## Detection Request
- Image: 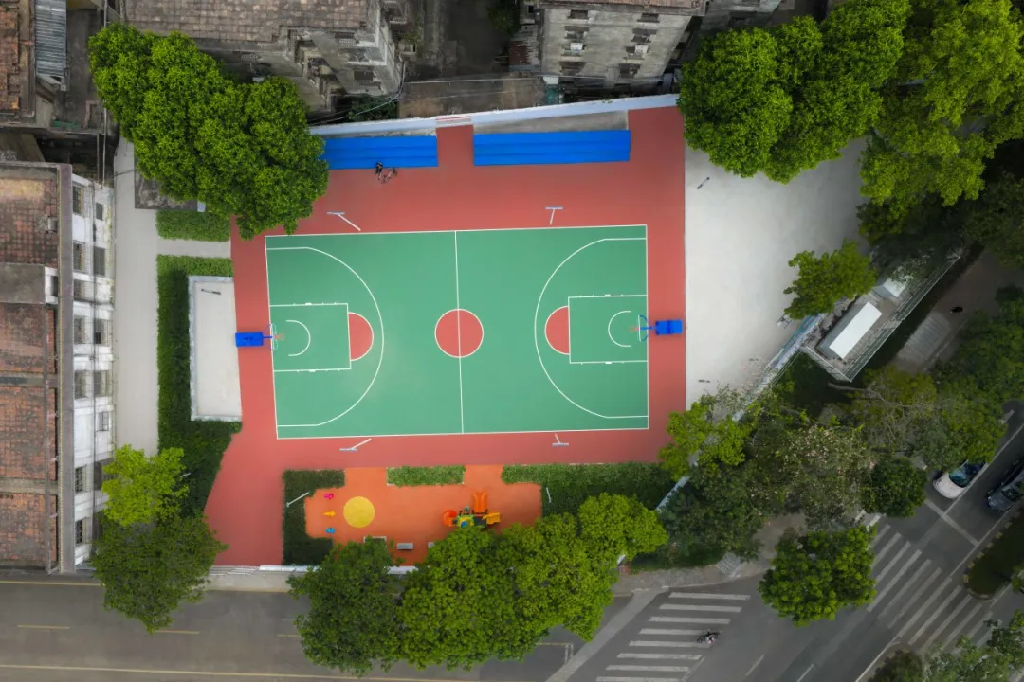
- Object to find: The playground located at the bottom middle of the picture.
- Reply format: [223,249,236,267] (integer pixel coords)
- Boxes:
[305,465,543,567]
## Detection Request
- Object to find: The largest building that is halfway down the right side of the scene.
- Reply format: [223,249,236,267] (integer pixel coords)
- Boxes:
[814,302,881,362]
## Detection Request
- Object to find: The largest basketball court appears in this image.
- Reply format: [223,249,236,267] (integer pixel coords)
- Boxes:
[205,106,686,568]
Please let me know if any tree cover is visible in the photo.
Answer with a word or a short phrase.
Yes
